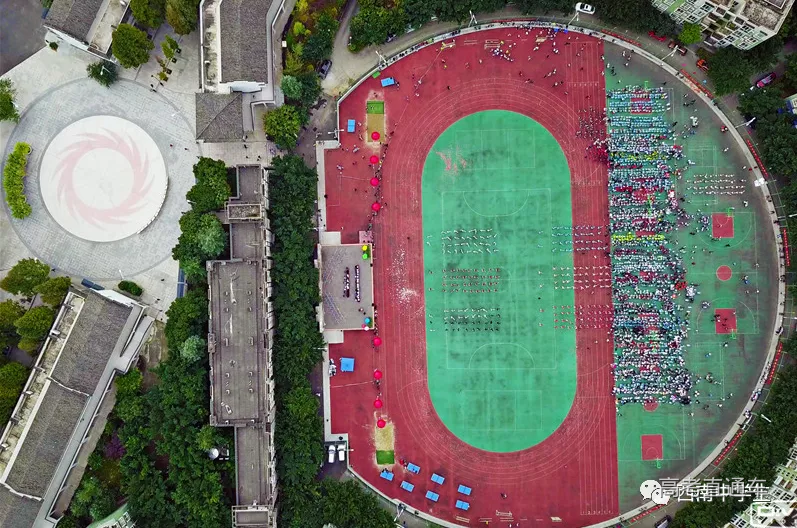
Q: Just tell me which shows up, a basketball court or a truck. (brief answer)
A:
basketball court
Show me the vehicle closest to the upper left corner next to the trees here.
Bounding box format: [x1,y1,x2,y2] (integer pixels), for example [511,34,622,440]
[318,58,331,76]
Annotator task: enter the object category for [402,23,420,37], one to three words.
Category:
vehicle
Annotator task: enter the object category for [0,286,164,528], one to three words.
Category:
building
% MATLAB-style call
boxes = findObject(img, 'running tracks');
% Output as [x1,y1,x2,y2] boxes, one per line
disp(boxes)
[325,26,620,528]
